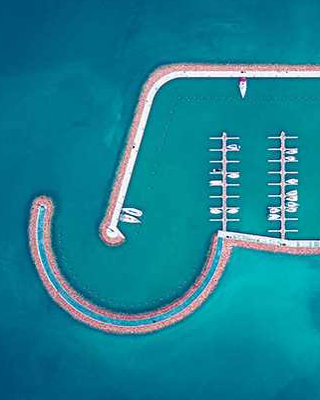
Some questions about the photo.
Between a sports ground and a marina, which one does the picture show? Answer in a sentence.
This image shows a marina.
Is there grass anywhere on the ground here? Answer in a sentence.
No, there's no grass in this view.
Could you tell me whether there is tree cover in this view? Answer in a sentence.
No, there's no tree cover in this view.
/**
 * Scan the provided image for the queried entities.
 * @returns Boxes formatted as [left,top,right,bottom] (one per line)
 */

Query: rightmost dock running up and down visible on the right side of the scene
[268,131,298,239]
